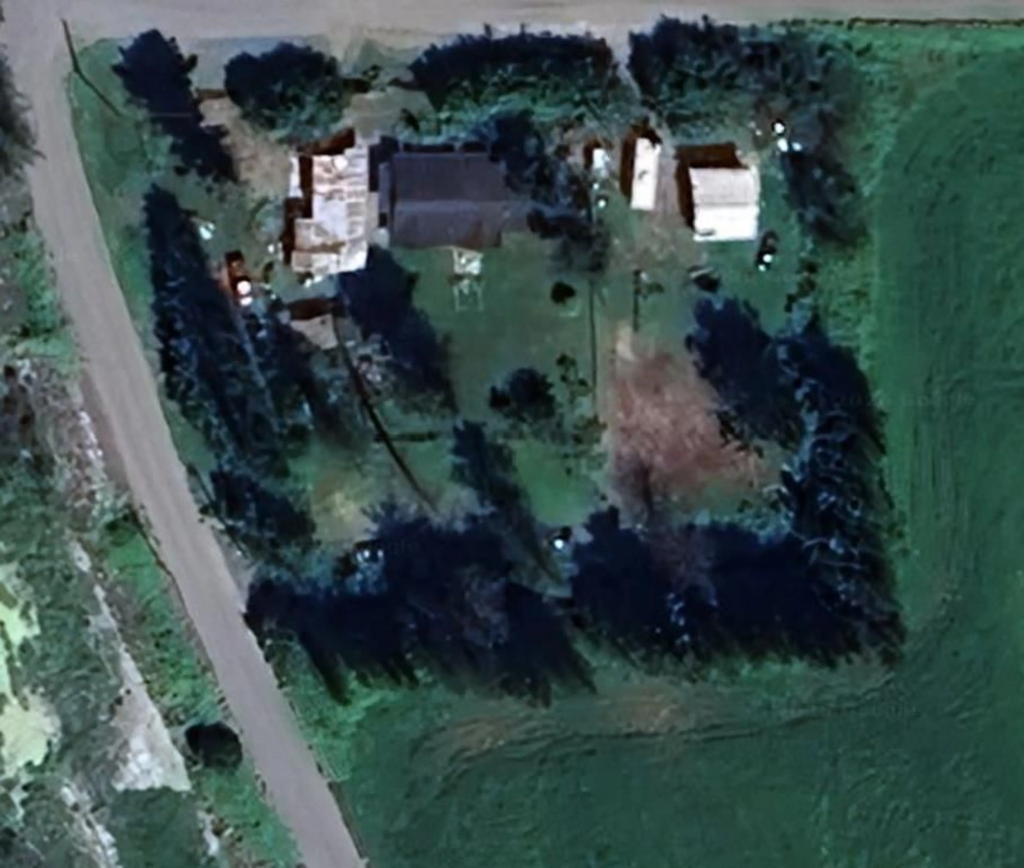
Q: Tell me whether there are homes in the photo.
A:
Yes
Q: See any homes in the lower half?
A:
No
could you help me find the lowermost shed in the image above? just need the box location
[293,315,343,354]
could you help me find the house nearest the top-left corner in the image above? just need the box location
[289,148,379,274]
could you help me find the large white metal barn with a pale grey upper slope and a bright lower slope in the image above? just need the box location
[688,165,761,245]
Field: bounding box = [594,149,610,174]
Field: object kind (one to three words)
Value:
shed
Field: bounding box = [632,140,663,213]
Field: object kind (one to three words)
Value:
building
